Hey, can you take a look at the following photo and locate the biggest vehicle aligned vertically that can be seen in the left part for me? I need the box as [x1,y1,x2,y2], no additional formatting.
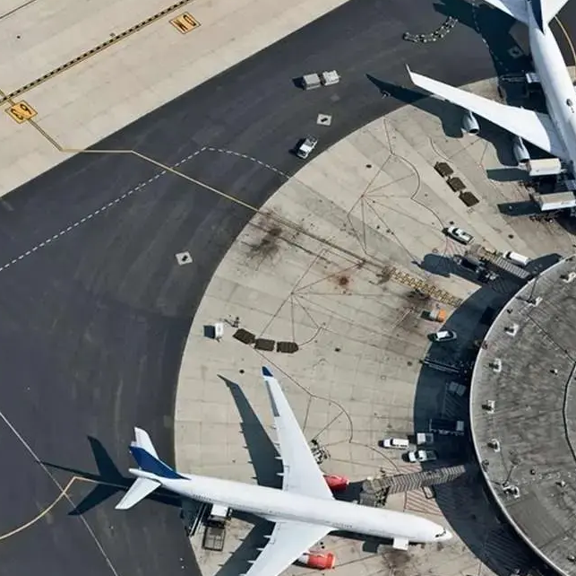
[201,506,230,556]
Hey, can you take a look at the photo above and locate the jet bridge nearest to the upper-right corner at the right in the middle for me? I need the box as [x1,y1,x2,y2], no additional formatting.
[459,244,533,286]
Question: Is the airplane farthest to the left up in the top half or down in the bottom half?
bottom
